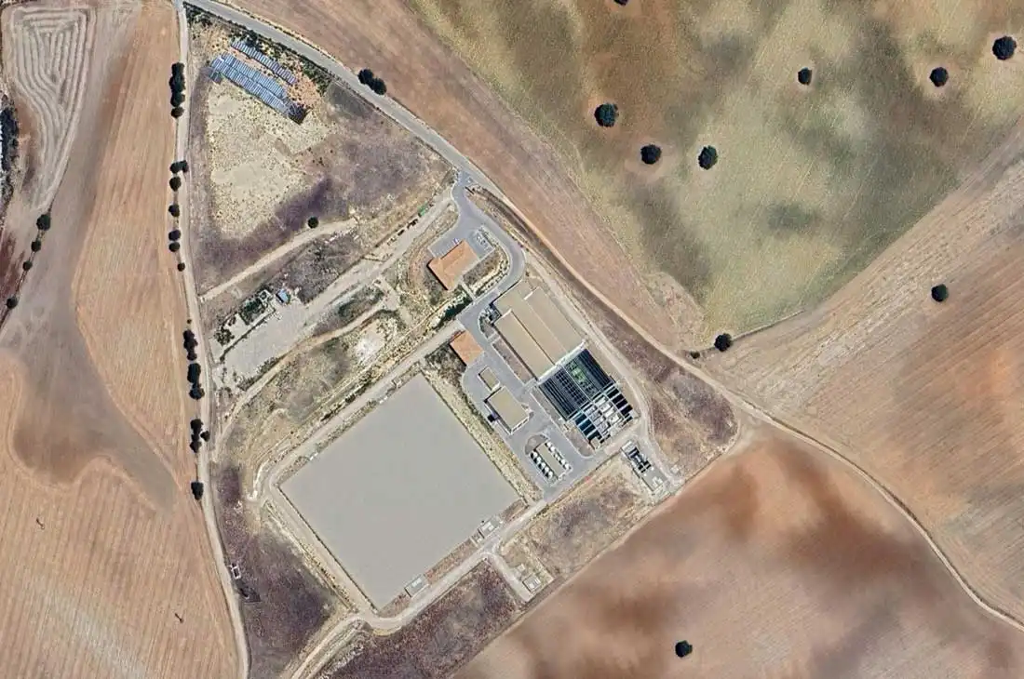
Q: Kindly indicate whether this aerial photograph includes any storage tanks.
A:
Yes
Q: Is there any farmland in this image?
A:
Yes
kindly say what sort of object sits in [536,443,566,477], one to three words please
building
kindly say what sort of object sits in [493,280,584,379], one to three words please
building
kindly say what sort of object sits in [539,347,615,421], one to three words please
storage tank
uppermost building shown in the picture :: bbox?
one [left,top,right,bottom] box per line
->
[426,240,480,288]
